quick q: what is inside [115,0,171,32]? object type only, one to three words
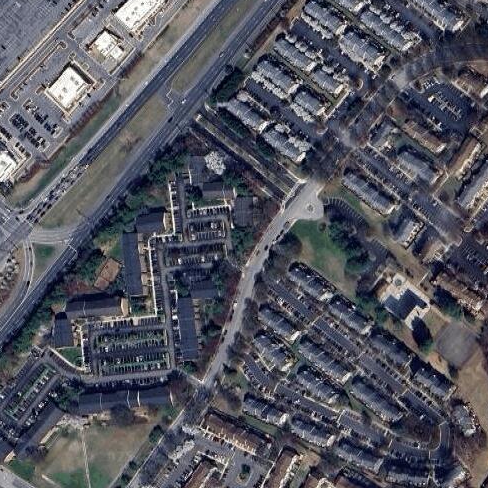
building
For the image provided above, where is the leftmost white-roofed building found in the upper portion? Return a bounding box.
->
[0,148,20,183]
